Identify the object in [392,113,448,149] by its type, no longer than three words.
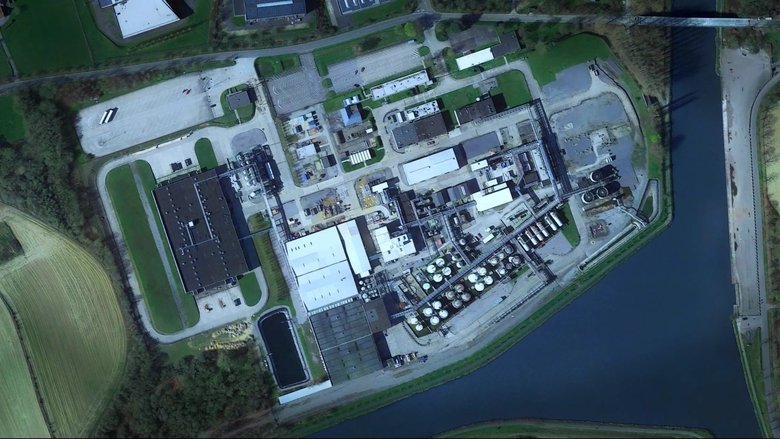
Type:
building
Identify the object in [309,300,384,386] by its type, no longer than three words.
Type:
building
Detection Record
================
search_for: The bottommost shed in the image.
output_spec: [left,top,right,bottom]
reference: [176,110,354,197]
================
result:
[278,381,332,405]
